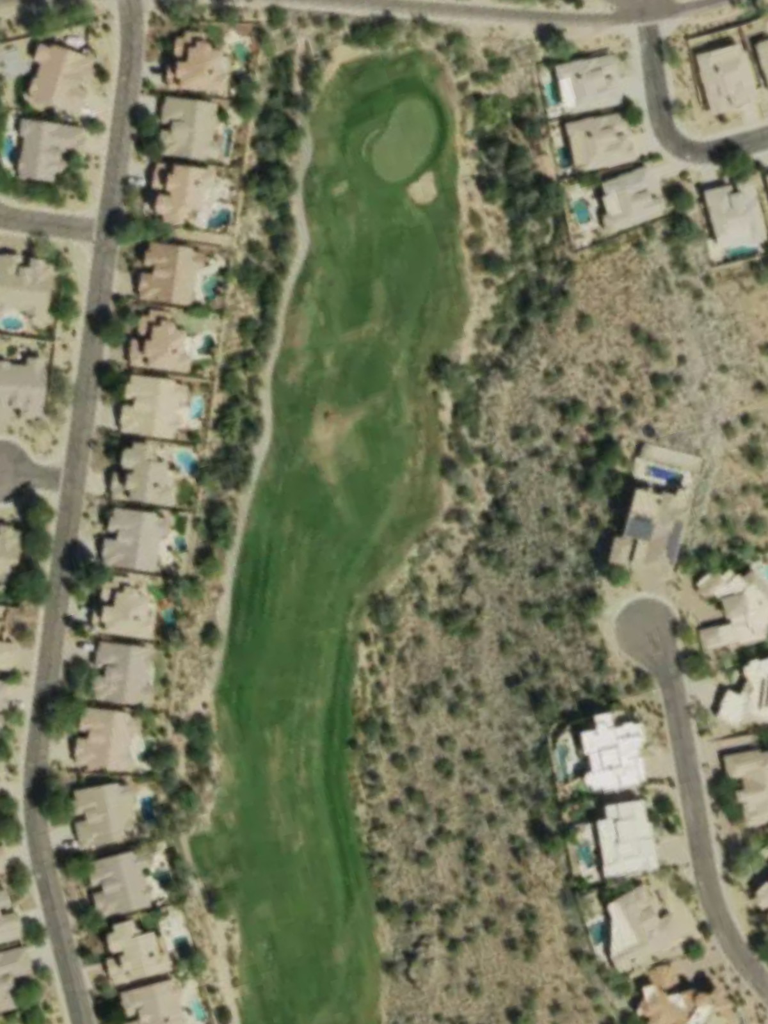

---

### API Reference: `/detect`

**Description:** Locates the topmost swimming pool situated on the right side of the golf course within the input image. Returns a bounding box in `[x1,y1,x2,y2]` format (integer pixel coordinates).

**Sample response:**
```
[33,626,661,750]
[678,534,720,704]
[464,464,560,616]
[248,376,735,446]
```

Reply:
[544,72,560,105]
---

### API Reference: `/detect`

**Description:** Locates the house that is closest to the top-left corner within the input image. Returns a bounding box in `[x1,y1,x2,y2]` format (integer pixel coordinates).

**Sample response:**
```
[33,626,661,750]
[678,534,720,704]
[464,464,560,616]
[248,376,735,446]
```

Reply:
[23,39,95,110]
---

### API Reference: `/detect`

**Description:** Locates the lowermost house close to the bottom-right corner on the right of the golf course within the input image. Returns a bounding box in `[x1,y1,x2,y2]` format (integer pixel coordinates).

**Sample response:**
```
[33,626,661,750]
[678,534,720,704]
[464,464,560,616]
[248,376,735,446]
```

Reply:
[639,989,724,1024]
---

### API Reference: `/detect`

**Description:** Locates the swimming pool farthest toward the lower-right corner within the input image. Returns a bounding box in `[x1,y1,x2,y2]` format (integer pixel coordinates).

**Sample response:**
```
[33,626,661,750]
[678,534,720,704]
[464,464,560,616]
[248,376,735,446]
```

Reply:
[589,919,608,946]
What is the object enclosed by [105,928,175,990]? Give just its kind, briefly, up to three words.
house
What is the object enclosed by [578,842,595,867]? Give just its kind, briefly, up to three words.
swimming pool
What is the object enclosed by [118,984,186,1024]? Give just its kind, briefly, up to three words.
house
